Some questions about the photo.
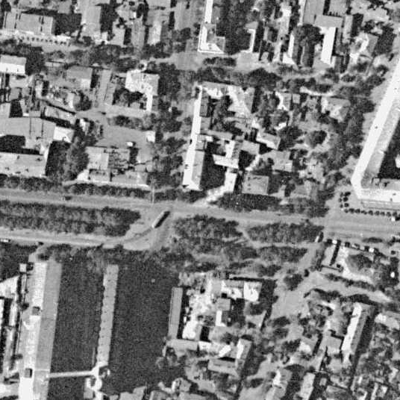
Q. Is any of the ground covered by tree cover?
Yes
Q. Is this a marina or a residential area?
residential area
